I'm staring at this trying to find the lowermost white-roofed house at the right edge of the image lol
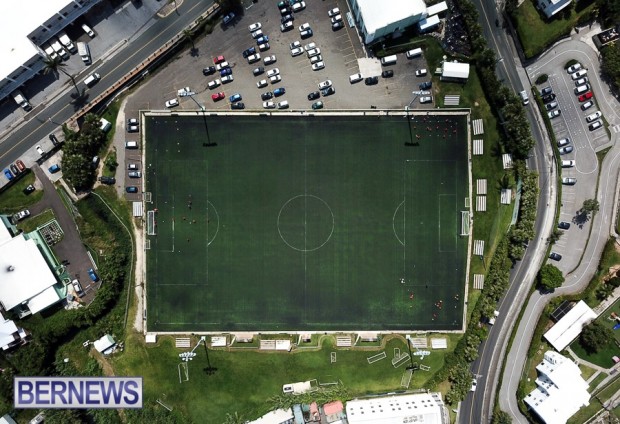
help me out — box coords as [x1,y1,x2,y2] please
[515,346,591,424]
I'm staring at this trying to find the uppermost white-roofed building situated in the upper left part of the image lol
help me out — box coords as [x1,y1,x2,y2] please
[0,0,105,104]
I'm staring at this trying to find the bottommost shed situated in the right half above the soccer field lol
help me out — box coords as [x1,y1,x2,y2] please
[441,62,470,81]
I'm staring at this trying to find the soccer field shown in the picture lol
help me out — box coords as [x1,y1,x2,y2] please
[147,115,466,330]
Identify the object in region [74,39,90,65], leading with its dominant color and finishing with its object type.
white vehicle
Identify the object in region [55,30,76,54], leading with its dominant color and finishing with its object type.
white vehicle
